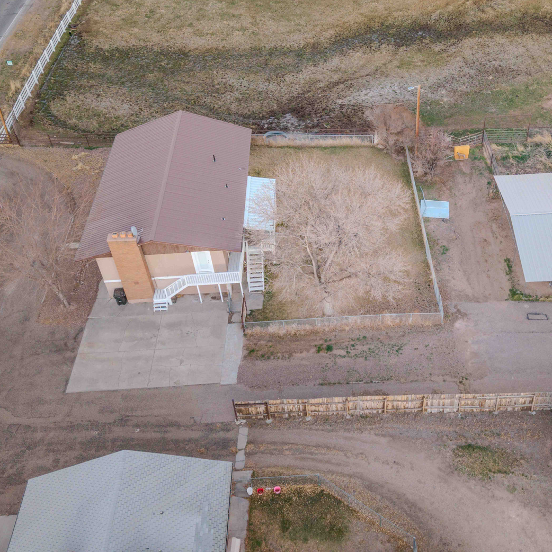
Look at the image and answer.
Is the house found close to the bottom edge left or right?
left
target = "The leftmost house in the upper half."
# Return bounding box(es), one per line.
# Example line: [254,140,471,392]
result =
[73,110,253,304]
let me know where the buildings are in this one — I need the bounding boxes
[4,450,235,552]
[73,110,253,304]
[495,174,552,300]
